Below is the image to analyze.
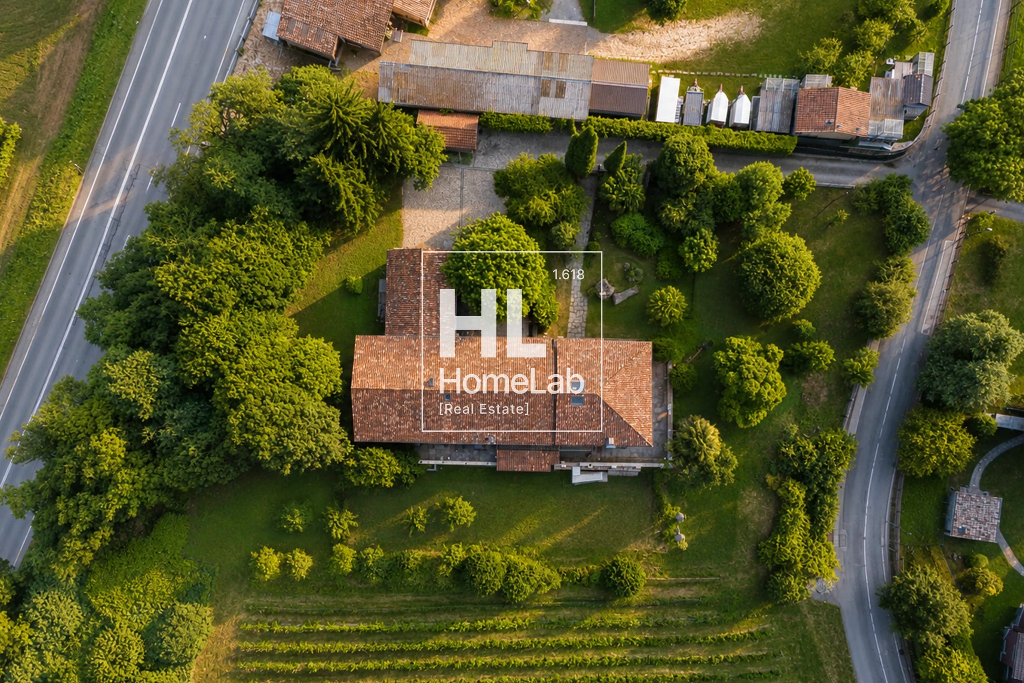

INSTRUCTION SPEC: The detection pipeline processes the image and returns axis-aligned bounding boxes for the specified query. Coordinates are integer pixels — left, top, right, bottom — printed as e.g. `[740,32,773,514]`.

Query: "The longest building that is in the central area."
[351,335,654,448]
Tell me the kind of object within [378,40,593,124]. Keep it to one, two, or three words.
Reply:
shed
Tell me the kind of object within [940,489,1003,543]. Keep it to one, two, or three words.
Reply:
building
